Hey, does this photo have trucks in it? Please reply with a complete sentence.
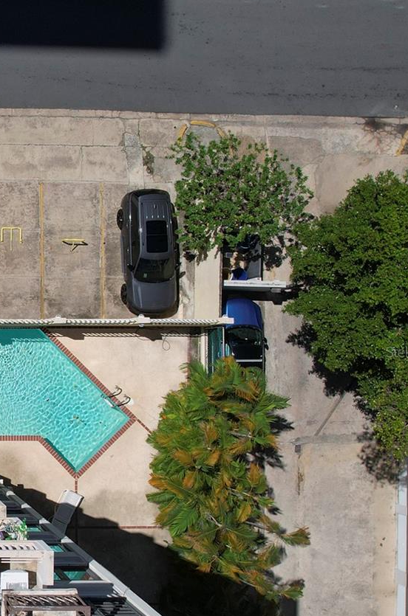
No, there isn't any truck down there.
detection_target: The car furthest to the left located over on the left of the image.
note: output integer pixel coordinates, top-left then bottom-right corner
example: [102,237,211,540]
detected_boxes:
[116,189,184,317]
